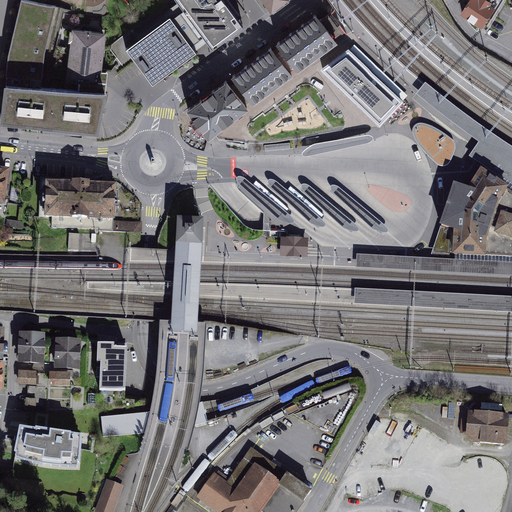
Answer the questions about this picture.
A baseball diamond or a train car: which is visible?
train car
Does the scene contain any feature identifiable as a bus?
Yes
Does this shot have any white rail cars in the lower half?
Yes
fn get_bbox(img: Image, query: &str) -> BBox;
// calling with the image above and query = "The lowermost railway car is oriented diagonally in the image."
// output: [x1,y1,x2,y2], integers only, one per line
[170,491,185,508]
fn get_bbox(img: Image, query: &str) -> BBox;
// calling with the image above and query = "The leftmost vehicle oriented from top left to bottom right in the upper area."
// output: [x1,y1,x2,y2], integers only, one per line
[252,178,292,212]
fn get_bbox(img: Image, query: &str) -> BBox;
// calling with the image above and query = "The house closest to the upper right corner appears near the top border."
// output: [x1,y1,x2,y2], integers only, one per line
[460,0,500,28]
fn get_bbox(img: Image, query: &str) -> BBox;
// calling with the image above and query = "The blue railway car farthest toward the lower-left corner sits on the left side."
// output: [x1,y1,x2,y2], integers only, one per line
[160,384,172,422]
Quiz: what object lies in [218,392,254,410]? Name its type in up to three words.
rail car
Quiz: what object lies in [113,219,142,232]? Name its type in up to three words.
shed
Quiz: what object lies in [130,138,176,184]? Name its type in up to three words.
roundabout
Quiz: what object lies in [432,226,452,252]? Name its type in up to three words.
building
